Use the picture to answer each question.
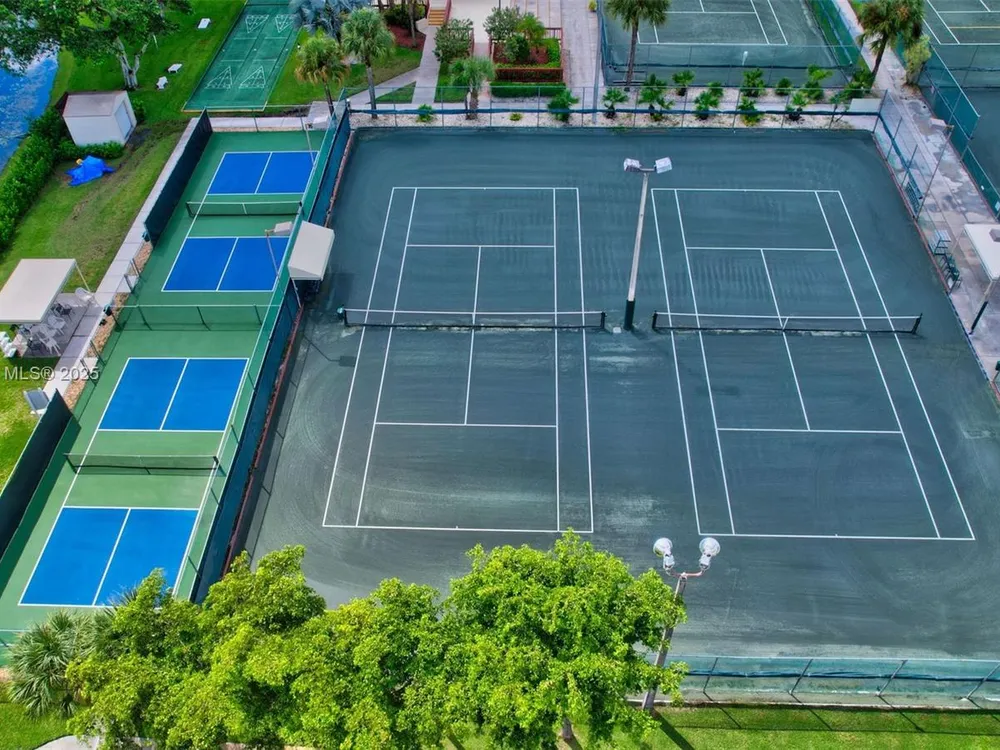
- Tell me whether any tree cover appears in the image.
Yes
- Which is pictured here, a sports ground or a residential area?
sports ground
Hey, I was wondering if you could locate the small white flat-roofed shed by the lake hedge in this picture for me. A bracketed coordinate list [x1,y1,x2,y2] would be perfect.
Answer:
[53,89,136,145]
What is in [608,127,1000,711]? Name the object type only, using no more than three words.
tennis court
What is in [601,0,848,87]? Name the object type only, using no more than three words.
tennis court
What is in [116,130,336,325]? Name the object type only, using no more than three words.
sports court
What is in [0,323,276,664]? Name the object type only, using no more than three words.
sports court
